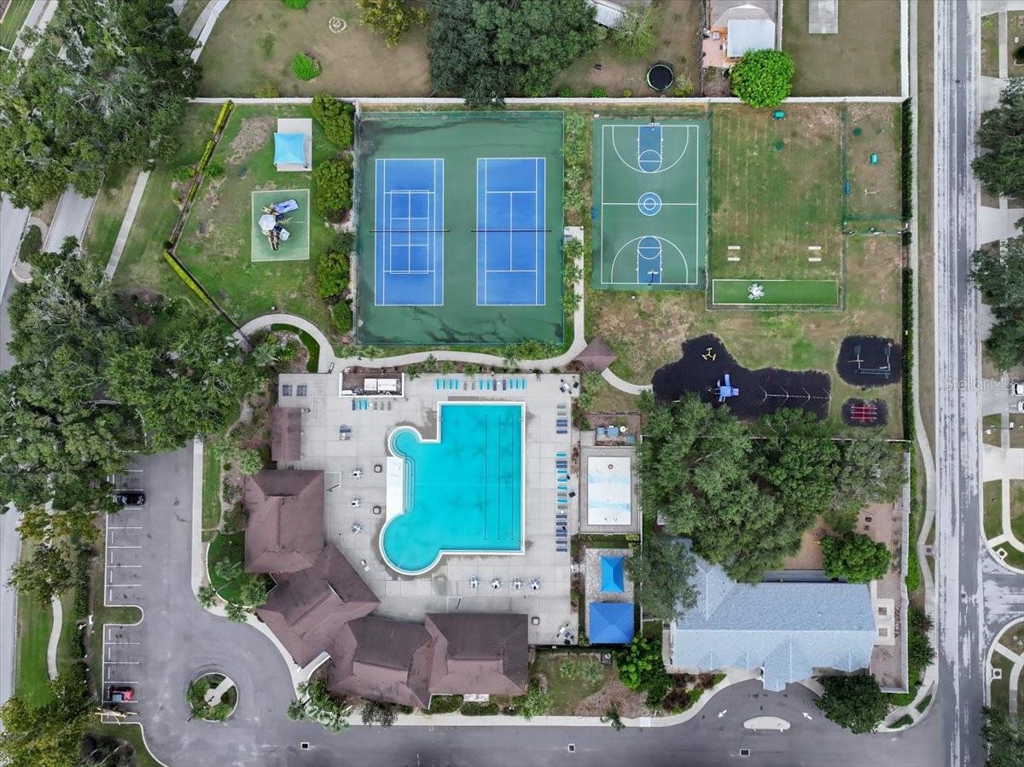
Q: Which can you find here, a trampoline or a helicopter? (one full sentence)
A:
Looking from above, you can make out a trampoline.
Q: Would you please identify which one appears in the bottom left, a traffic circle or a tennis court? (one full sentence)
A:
The one visible in the bottom left is a traffic circle.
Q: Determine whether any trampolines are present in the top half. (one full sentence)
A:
Yes, a trampoline shows up in the top half.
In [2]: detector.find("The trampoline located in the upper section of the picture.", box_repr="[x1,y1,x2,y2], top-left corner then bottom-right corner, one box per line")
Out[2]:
[645,60,677,91]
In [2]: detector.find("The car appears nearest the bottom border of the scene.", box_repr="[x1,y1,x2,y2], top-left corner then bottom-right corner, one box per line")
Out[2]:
[108,686,135,701]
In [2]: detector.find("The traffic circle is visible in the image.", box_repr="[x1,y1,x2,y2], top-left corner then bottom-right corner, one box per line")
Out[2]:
[187,671,239,723]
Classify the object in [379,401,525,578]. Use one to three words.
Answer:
swimming pool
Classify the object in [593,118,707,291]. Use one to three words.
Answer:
basketball court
